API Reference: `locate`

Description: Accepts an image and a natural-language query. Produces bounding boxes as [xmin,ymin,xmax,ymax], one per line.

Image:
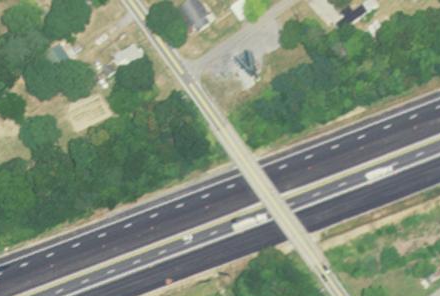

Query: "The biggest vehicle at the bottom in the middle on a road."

[232,212,267,229]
